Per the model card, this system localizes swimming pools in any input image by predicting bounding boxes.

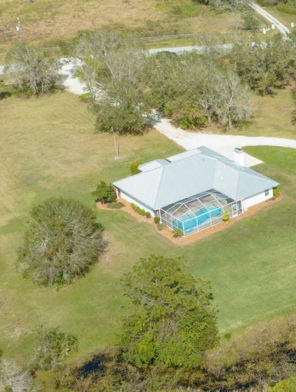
[158,198,241,235]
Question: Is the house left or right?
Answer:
right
